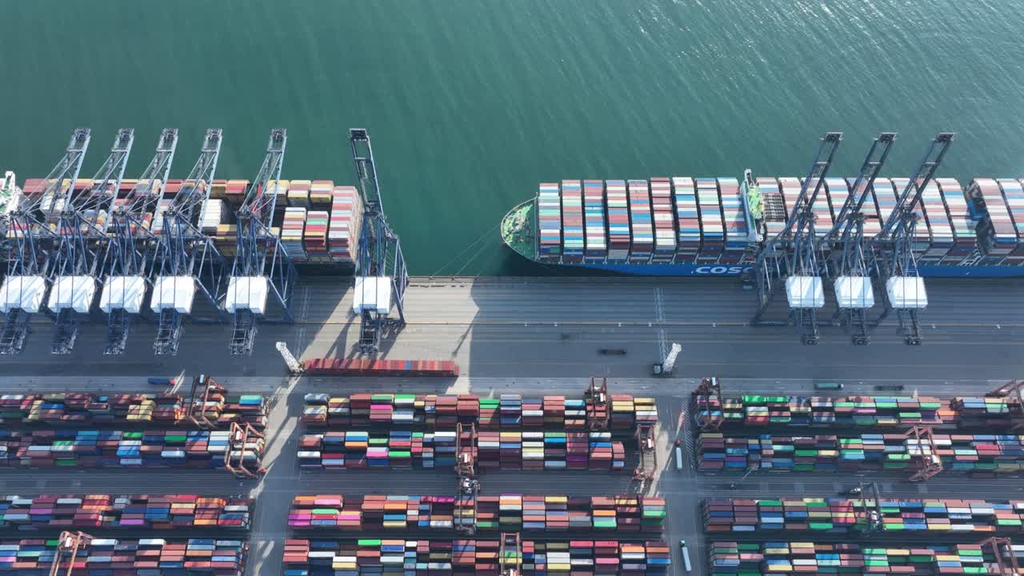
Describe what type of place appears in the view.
port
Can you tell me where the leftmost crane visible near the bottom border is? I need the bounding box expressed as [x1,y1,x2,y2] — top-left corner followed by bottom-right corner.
[54,532,104,576]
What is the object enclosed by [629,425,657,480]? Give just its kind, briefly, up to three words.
container crane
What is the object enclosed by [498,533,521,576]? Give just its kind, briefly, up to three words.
container crane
